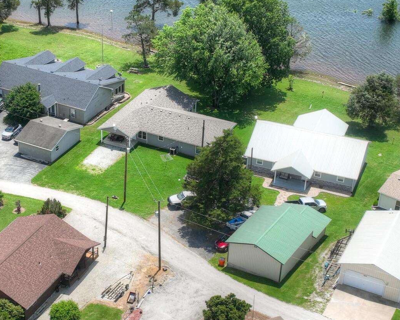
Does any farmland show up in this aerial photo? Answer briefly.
No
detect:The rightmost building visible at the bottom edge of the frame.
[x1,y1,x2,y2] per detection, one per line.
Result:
[335,208,400,304]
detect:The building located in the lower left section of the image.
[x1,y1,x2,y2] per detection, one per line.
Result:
[0,213,108,320]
